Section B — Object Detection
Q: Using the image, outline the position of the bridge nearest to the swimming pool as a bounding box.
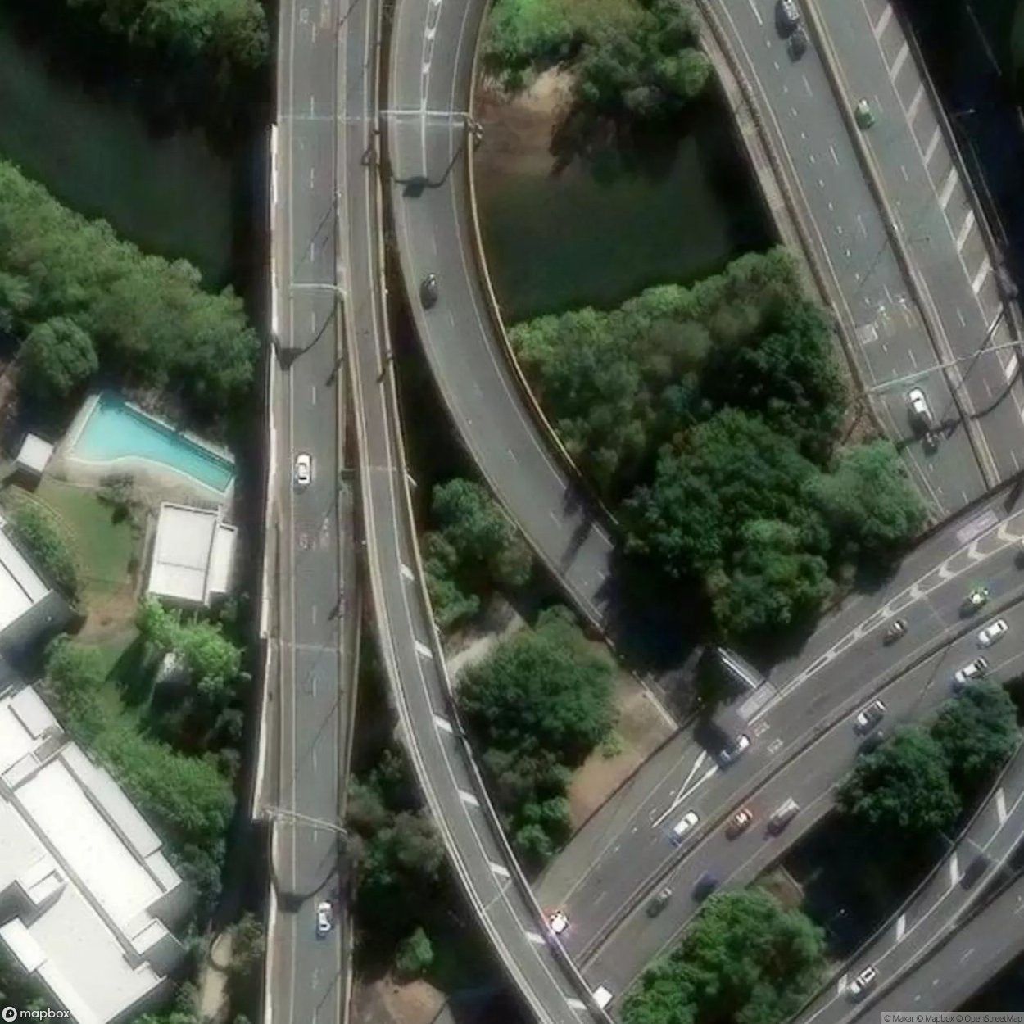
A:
[265,0,369,1024]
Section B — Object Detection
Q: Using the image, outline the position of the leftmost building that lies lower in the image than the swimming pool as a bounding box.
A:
[0,518,78,672]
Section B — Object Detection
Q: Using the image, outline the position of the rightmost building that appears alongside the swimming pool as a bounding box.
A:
[147,501,246,611]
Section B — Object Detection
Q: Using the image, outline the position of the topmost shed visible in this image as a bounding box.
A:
[17,433,57,475]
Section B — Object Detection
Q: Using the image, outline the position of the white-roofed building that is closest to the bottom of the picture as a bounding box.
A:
[0,686,209,1024]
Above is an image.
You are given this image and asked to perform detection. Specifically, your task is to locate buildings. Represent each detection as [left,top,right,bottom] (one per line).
[17,433,57,475]
[0,518,78,672]
[0,686,209,1024]
[147,501,246,611]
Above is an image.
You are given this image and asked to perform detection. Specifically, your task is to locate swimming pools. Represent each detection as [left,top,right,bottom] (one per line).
[51,389,240,524]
